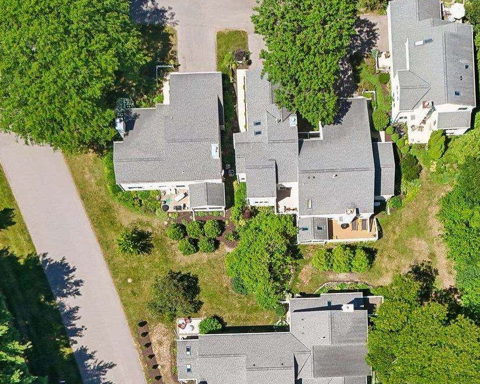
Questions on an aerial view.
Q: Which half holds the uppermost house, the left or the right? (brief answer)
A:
right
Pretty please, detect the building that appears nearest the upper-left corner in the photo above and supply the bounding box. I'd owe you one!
[114,71,225,210]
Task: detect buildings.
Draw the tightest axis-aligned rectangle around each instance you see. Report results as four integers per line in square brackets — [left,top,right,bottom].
[386,0,476,133]
[114,71,225,210]
[233,70,395,245]
[176,292,369,384]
